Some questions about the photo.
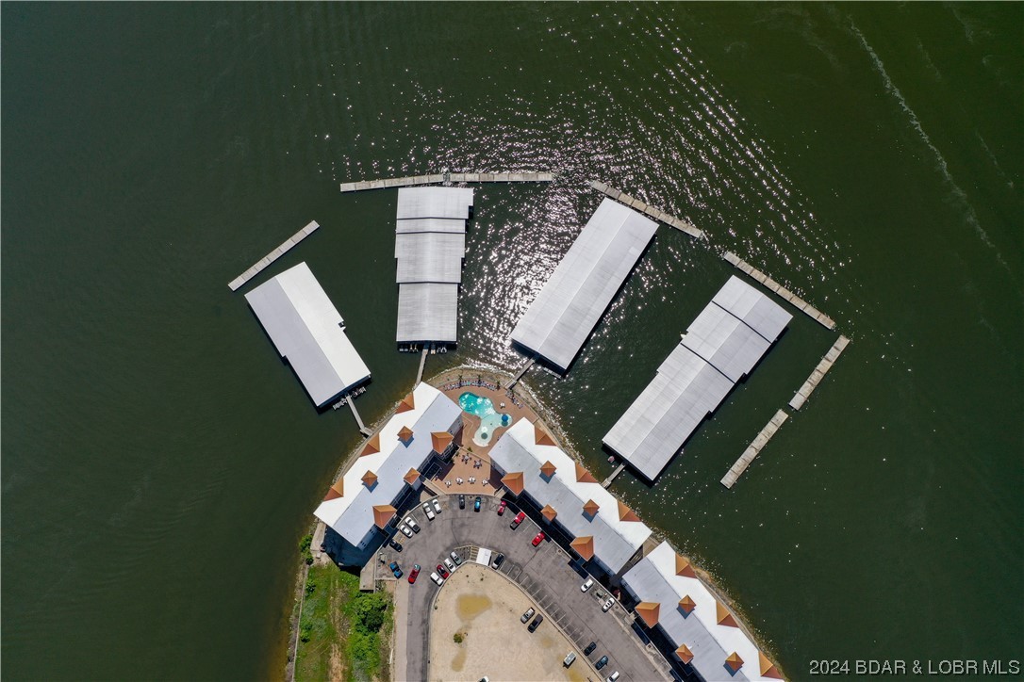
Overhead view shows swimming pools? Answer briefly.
Yes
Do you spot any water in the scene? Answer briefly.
Yes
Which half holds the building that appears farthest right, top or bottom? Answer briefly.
bottom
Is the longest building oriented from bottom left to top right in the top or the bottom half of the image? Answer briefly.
bottom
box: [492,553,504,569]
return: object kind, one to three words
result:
vehicle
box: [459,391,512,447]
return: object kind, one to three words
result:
swimming pool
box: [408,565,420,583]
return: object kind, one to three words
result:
vehicle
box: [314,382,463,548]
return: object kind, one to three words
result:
building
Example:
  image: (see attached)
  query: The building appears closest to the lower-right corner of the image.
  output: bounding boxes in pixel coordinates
[620,541,784,682]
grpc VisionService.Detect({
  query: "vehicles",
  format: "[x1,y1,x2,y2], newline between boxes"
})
[606,670,620,682]
[444,558,456,573]
[492,553,504,569]
[450,552,462,565]
[389,539,403,552]
[400,525,412,537]
[602,598,614,612]
[528,614,544,632]
[423,503,435,521]
[499,501,507,515]
[406,517,420,533]
[430,572,443,586]
[408,565,420,583]
[595,655,609,671]
[521,607,536,624]
[534,533,545,546]
[581,578,593,592]
[511,512,524,529]
[436,564,449,579]
[432,499,442,513]
[389,562,402,578]
[459,494,465,508]
[475,497,481,511]
[584,641,597,656]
